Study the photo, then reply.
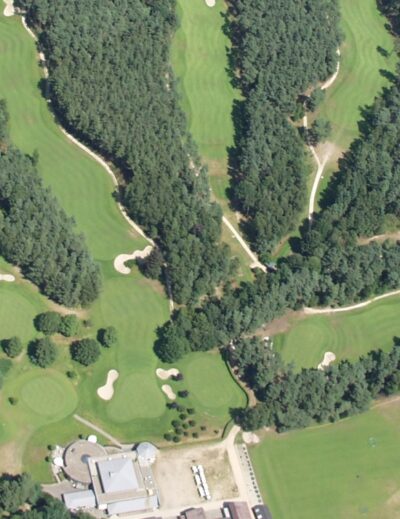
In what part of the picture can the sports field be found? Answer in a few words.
bottom right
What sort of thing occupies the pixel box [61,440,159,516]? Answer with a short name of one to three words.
building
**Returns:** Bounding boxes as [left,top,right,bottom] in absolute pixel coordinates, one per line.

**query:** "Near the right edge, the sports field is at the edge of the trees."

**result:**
[252,394,400,519]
